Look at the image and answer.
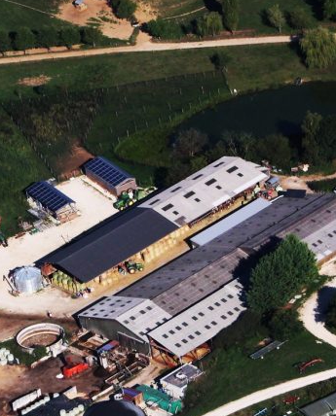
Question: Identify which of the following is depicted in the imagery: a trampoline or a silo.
silo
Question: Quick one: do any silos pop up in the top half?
No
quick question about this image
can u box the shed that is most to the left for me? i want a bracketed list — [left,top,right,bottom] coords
[26,180,77,223]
